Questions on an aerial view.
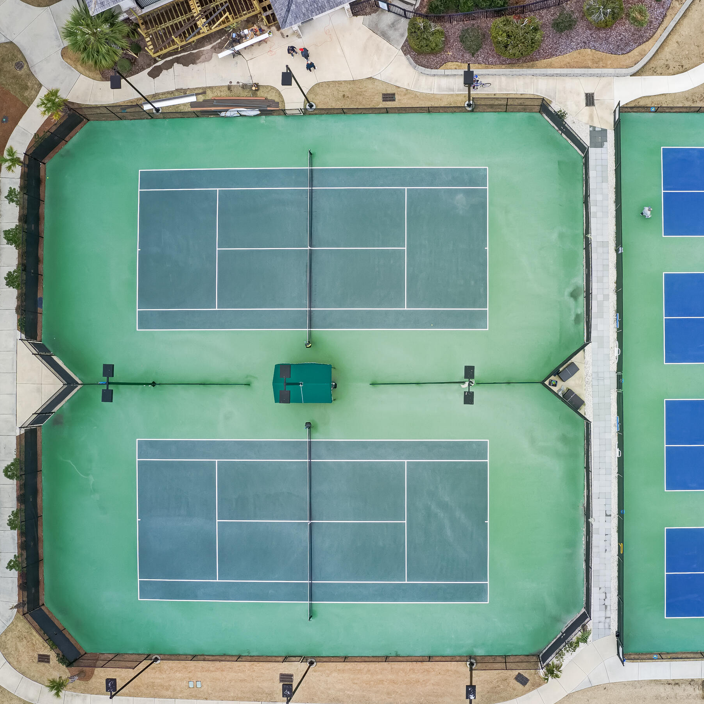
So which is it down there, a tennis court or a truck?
tennis court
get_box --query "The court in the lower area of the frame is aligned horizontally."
[136,440,489,603]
